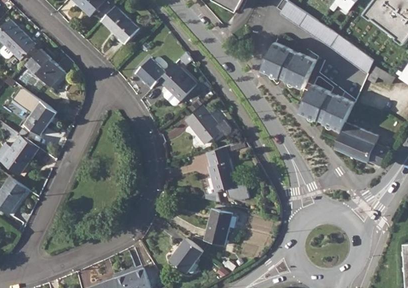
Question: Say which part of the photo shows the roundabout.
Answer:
bottom right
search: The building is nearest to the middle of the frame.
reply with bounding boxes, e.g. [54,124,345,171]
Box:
[186,104,232,150]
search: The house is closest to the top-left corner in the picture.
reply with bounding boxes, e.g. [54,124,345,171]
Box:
[0,19,38,61]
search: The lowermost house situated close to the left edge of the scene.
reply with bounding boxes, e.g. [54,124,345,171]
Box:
[0,176,32,217]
